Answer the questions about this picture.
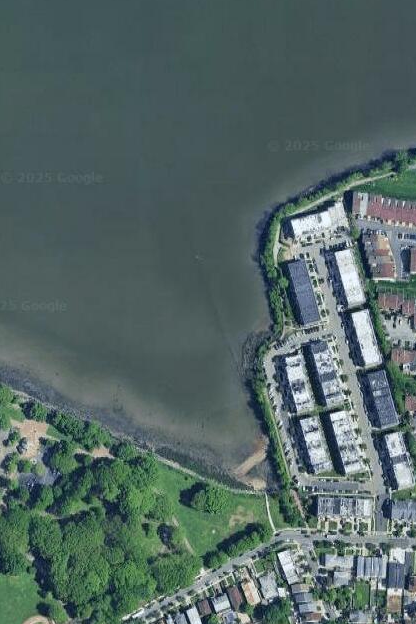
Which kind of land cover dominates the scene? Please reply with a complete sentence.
The bulk of the photo consists of water.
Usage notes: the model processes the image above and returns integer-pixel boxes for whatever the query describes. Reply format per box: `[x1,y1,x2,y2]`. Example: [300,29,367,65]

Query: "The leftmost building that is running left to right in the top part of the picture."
[291,203,351,240]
